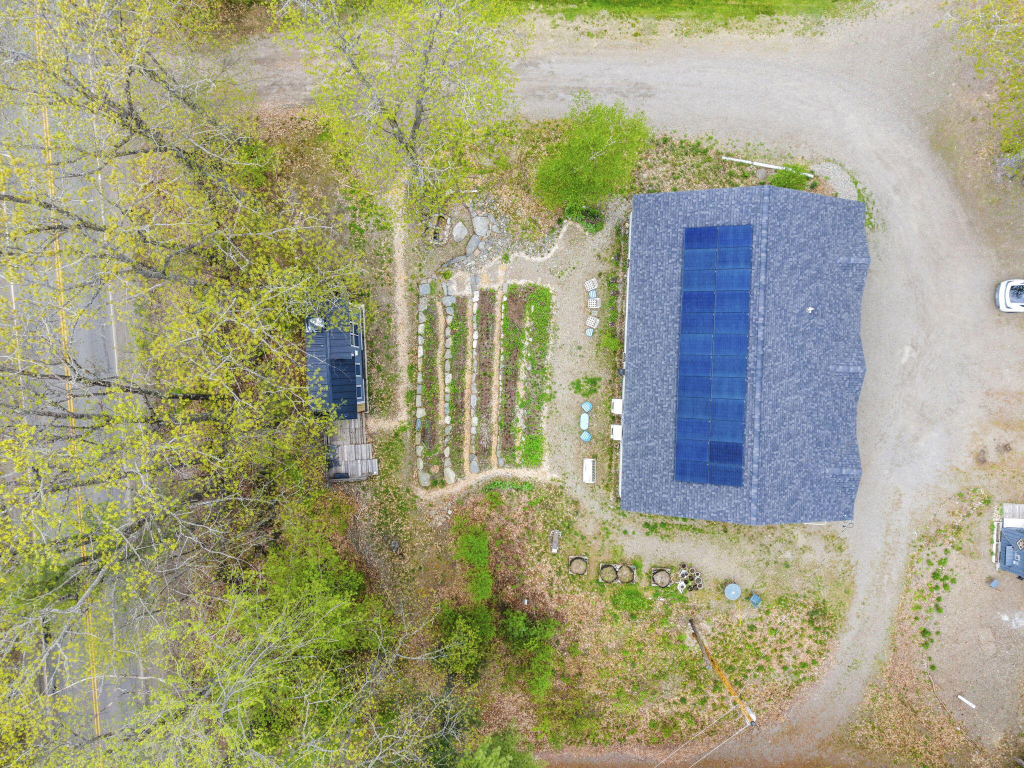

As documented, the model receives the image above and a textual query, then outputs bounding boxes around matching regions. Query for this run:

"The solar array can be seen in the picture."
[675,225,751,488]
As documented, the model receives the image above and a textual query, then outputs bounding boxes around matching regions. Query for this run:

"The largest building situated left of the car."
[615,185,871,526]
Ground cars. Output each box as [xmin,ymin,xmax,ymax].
[991,278,1024,315]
